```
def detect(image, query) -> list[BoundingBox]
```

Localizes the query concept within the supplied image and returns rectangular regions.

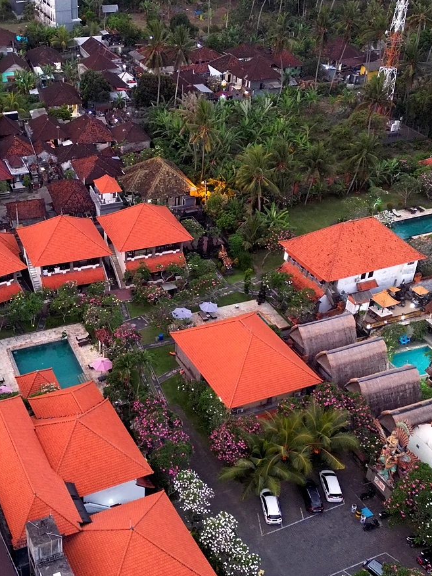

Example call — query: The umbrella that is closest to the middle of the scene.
[197,303,219,319]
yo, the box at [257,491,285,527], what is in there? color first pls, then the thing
white car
